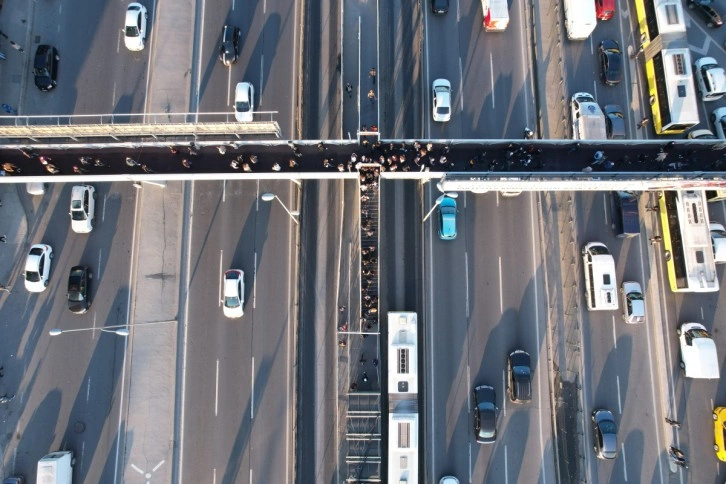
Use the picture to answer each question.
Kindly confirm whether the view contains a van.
Yes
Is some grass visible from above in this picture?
No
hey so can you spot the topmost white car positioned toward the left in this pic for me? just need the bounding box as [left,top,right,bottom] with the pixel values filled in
[121,4,148,51]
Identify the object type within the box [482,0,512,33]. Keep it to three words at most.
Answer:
truck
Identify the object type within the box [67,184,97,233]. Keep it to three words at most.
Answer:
car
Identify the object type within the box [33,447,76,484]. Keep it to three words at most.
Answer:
van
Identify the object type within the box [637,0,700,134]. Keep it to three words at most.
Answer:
bus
